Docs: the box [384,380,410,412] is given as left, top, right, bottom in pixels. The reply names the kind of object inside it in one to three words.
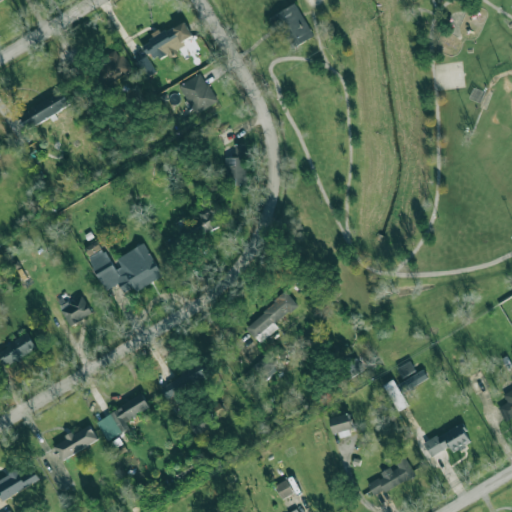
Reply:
shed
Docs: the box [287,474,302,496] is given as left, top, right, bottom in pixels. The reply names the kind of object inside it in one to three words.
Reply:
camper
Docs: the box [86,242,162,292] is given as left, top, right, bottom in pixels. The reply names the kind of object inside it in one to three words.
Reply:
house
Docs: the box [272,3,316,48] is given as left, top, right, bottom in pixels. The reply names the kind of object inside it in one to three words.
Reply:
building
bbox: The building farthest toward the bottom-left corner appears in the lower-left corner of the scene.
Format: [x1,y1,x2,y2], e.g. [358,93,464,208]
[0,466,41,504]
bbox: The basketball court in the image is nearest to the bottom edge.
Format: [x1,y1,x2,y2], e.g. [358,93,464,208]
[434,62,466,90]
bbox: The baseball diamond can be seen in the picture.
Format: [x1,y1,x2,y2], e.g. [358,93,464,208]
[457,77,512,244]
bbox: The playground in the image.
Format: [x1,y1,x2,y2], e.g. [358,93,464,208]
[440,8,488,56]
